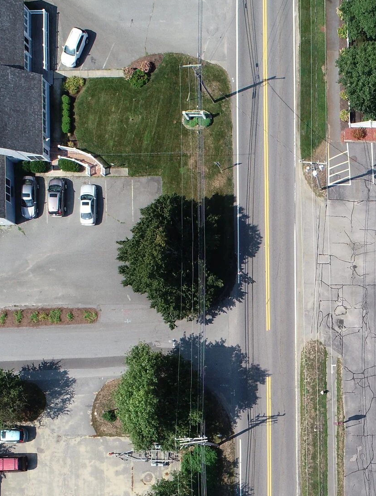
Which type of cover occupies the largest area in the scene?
paved ground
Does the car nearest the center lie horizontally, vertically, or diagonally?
vertically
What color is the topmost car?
white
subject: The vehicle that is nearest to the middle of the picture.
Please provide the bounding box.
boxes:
[78,184,98,225]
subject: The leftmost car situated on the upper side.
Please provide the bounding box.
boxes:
[18,177,39,219]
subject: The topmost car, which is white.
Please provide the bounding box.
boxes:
[61,25,89,68]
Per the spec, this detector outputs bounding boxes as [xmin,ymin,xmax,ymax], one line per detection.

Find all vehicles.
[18,177,39,219]
[78,184,98,225]
[44,179,67,218]
[61,25,89,68]
[0,456,28,473]
[0,428,29,443]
